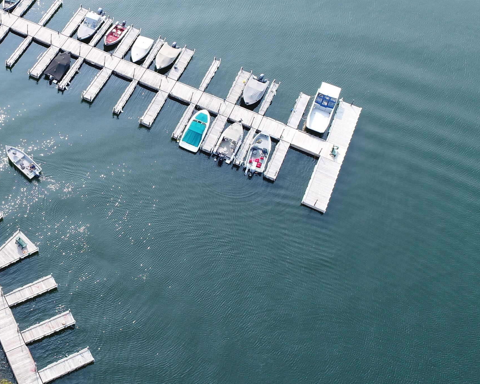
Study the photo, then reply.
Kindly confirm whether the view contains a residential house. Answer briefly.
No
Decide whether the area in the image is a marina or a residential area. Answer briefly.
marina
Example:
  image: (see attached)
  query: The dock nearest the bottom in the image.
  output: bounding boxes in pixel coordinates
[39,345,93,384]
